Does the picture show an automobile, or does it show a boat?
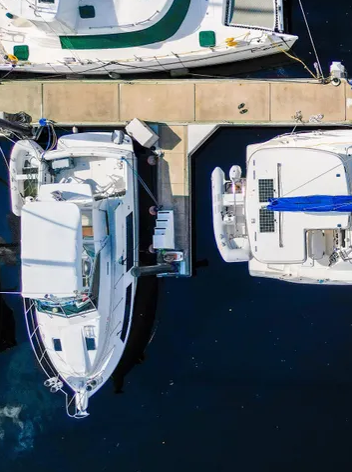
boat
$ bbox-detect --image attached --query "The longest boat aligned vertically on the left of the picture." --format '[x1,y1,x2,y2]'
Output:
[21,134,141,427]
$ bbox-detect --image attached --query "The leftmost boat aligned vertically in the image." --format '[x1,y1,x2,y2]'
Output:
[8,137,44,216]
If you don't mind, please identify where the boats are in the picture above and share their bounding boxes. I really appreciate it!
[233,128,352,285]
[214,161,250,263]
[0,0,299,72]
[8,137,44,216]
[21,134,141,427]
